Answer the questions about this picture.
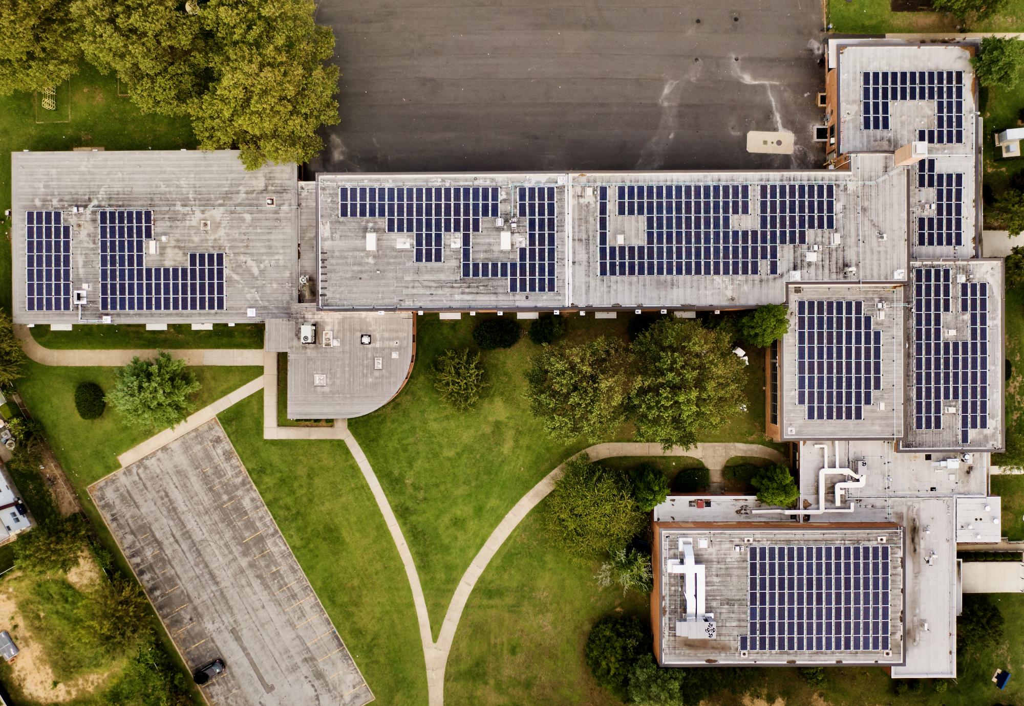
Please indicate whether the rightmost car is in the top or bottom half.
bottom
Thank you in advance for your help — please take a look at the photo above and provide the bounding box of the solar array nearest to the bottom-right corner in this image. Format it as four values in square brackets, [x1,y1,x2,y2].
[737,546,892,652]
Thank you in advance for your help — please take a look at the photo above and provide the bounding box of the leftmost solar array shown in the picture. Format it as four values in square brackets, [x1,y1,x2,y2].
[24,211,74,311]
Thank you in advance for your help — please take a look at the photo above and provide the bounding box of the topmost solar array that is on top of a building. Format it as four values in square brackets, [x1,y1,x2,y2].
[860,71,966,145]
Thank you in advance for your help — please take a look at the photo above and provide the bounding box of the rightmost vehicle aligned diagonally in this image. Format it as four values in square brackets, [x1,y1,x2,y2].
[193,657,227,684]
